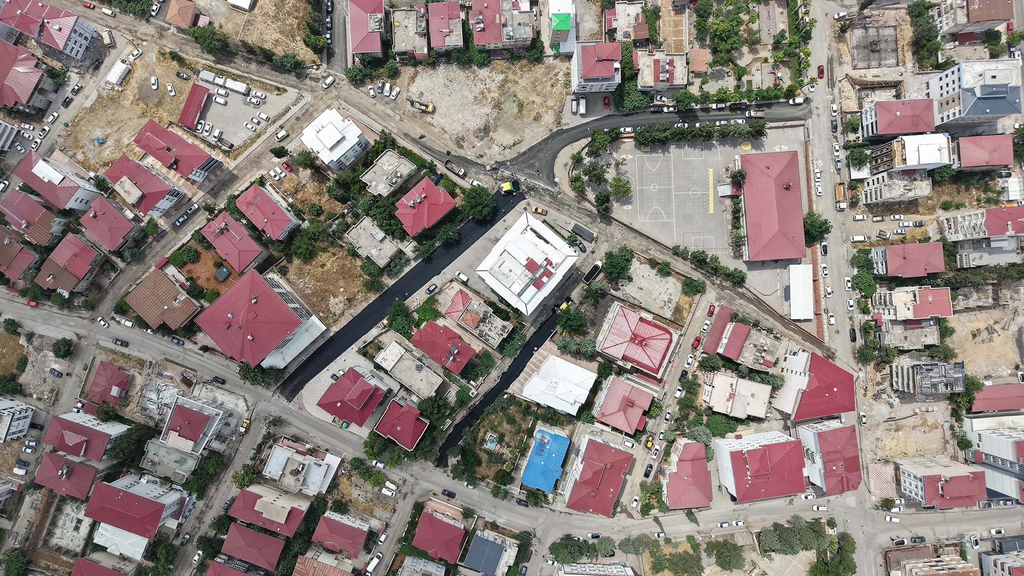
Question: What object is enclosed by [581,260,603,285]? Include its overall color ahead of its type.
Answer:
black truck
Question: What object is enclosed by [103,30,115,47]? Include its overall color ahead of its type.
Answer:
white vehicle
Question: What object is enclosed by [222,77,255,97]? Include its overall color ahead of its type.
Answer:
white vehicle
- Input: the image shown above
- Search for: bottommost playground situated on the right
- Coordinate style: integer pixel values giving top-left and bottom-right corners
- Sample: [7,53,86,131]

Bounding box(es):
[761,61,791,88]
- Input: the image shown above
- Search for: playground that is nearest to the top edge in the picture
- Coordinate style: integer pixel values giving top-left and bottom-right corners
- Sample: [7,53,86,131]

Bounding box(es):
[759,0,788,45]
